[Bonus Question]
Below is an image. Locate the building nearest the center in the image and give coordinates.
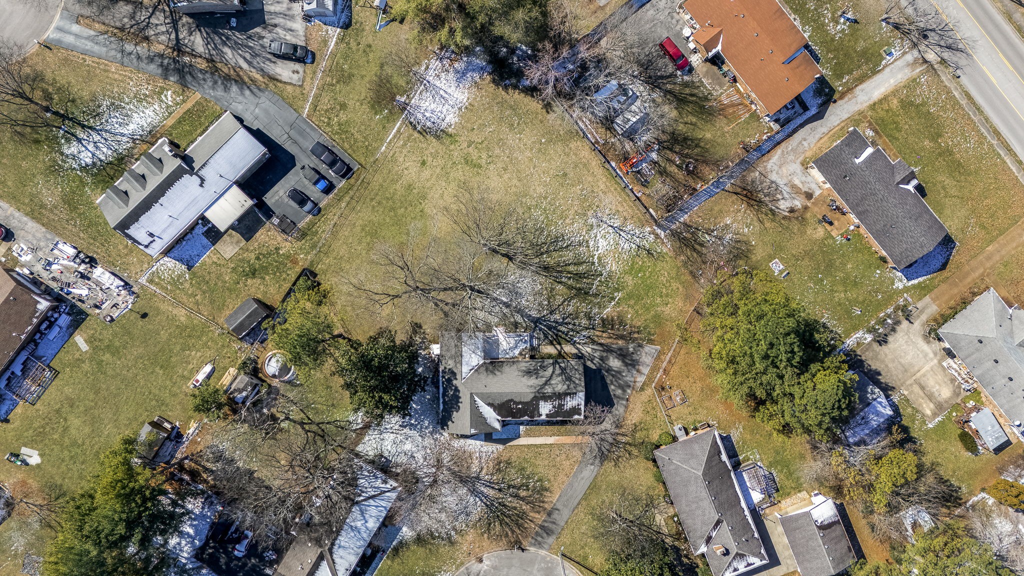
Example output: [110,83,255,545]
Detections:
[439,331,585,434]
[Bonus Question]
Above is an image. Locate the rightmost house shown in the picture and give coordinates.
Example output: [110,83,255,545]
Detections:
[935,287,1024,450]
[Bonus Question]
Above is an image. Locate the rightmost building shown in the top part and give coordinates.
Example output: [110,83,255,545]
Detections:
[808,127,948,270]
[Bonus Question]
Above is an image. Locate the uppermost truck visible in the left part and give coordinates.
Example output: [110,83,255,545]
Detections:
[265,40,310,61]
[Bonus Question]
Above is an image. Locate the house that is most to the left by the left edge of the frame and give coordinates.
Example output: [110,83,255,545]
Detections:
[0,268,57,379]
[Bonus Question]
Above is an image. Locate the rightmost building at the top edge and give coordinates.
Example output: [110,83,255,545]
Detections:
[673,0,823,115]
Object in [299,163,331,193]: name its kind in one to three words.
car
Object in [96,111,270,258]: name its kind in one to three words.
house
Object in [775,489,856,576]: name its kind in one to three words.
building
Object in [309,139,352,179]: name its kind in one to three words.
truck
